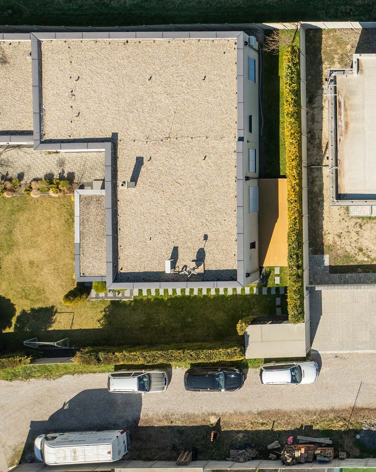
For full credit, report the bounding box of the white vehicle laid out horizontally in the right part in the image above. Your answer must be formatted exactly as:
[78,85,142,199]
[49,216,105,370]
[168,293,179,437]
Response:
[258,359,319,389]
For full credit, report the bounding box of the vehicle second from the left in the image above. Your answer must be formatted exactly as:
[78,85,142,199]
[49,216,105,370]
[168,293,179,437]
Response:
[105,369,170,398]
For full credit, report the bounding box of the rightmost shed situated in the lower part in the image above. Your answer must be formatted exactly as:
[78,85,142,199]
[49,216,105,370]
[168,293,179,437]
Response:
[245,319,306,360]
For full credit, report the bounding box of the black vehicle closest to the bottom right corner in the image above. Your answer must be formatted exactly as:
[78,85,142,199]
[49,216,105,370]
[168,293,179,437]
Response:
[183,366,245,396]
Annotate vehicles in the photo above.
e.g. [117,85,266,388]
[36,428,130,469]
[105,369,170,398]
[183,366,245,396]
[258,359,319,389]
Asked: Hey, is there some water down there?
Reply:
No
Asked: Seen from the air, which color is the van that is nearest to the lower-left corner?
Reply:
white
